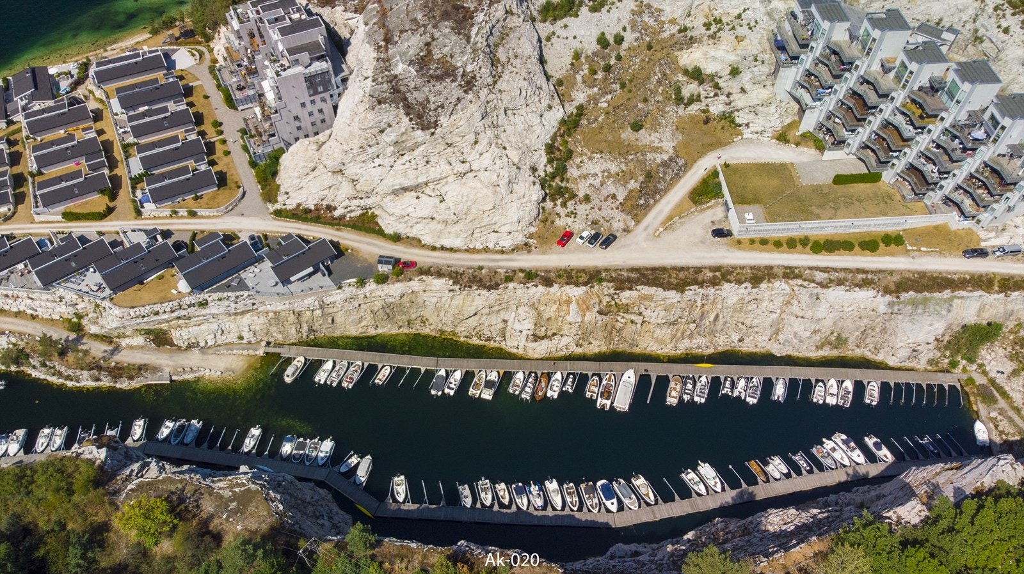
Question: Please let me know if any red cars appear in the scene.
Yes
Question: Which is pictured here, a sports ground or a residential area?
residential area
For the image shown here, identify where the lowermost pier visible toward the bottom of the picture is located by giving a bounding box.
[0,441,977,529]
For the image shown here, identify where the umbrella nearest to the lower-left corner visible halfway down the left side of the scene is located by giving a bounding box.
[174,282,193,298]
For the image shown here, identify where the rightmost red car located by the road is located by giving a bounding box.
[555,230,573,249]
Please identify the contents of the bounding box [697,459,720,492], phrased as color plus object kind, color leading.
white boat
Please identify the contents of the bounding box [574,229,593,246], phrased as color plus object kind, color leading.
white car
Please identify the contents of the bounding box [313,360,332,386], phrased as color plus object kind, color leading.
white boat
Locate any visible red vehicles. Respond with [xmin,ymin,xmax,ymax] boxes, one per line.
[396,259,417,269]
[555,230,573,249]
